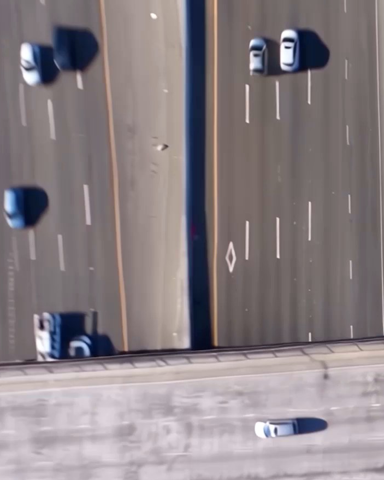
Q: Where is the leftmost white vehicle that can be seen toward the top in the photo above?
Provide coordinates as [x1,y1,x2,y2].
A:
[18,41,44,86]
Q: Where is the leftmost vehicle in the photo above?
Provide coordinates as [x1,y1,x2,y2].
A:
[3,187,29,230]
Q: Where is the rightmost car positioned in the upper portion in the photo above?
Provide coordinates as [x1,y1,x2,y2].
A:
[279,29,300,72]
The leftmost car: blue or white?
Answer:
blue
